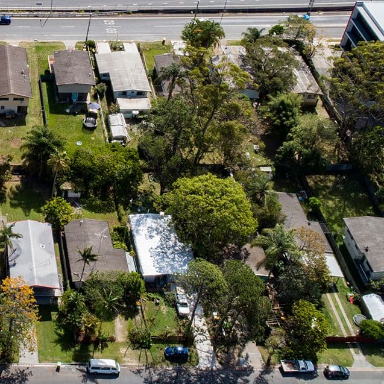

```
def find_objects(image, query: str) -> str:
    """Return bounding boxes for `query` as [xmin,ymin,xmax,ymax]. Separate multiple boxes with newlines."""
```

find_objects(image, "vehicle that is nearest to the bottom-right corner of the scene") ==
[322,364,352,379]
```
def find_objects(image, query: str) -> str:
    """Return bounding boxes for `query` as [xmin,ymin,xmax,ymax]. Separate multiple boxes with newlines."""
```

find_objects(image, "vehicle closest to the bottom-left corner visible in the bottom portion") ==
[87,358,120,375]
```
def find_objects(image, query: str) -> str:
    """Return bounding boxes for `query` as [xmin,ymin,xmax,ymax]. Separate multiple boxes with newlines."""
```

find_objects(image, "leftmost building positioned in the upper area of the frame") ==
[0,44,33,114]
